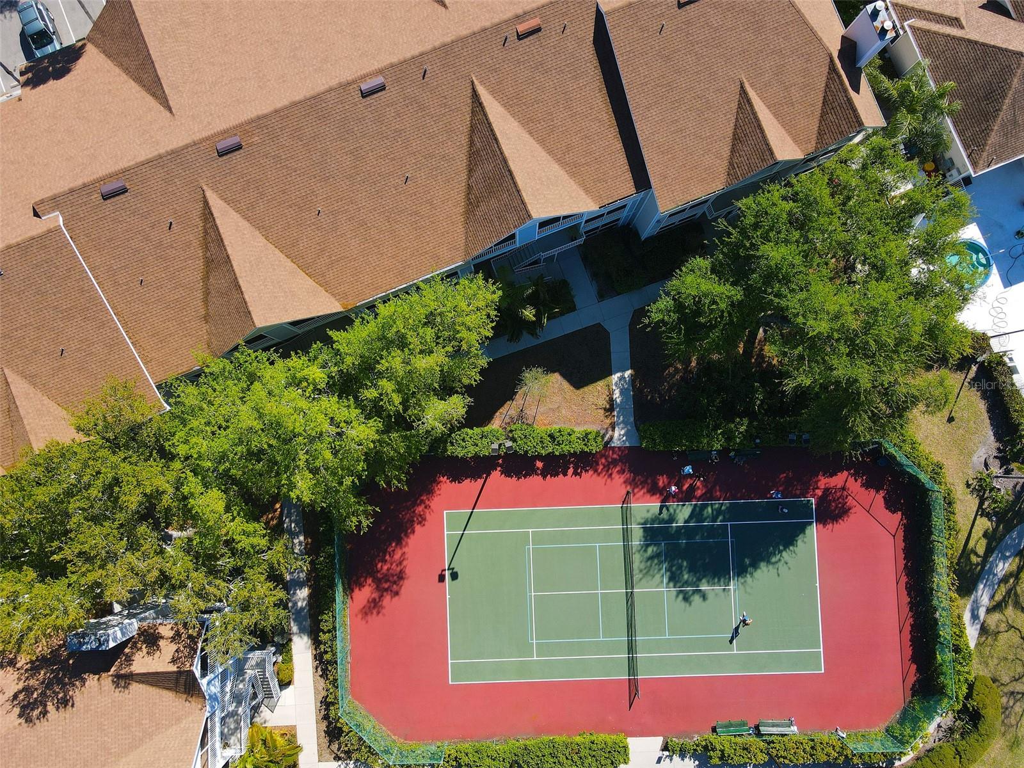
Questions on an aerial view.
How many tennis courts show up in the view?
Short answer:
1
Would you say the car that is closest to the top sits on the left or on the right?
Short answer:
left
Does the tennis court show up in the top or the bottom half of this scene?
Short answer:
bottom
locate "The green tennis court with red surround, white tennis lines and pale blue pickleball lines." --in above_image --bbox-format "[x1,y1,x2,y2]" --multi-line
[349,443,932,745]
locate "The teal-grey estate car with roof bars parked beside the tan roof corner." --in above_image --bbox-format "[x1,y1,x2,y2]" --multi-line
[22,0,70,54]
